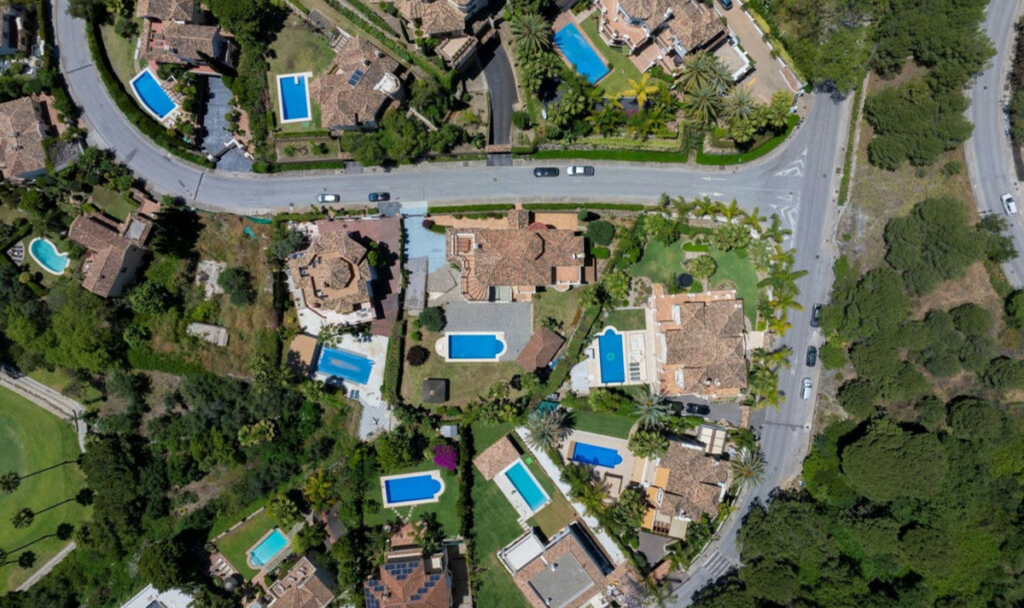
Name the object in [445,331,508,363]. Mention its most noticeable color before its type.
blue swimming pool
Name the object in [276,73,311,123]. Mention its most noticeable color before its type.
blue swimming pool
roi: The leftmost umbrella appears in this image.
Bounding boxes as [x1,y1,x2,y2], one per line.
[221,580,236,594]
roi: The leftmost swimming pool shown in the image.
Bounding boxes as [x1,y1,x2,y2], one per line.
[29,237,69,275]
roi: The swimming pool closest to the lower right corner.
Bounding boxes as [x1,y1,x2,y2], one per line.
[571,441,624,470]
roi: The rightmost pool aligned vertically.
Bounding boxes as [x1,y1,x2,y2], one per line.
[596,326,627,386]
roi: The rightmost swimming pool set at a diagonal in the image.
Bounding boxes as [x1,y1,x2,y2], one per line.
[553,21,611,86]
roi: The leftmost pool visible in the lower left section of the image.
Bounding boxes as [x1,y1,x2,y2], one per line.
[248,527,289,569]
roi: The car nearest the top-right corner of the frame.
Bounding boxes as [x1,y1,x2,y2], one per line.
[999,192,1016,216]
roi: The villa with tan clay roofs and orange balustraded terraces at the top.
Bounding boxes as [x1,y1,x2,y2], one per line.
[592,0,753,83]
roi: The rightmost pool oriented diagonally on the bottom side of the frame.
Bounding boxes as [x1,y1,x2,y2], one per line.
[503,460,549,514]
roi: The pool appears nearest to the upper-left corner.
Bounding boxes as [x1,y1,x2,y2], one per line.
[128,66,180,121]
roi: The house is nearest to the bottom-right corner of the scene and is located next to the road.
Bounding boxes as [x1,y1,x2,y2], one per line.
[638,437,730,540]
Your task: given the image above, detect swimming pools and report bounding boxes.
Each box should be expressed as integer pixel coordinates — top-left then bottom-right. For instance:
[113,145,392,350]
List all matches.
[316,346,375,387]
[248,527,289,569]
[596,326,627,386]
[553,21,611,86]
[381,470,445,508]
[571,441,624,470]
[445,331,508,363]
[503,460,549,514]
[29,237,69,275]
[128,66,180,121]
[276,73,311,123]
